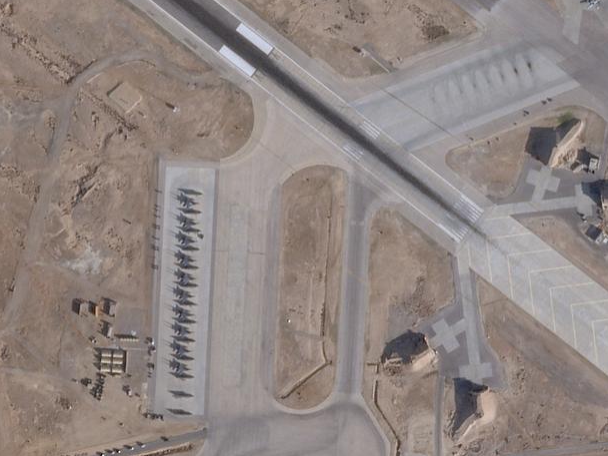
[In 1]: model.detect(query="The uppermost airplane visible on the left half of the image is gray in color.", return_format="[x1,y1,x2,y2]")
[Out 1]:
[182,194,201,207]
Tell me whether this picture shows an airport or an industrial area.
airport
